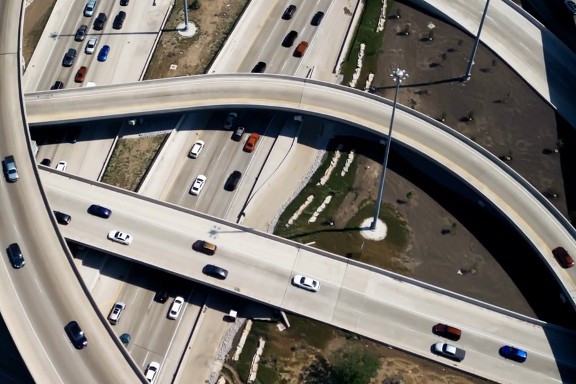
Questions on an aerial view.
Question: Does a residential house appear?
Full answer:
No, there is no residential house in the image.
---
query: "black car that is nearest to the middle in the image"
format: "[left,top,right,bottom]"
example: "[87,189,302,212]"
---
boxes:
[225,170,240,191]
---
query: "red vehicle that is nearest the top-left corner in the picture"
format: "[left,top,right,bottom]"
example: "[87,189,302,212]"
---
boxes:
[74,66,88,83]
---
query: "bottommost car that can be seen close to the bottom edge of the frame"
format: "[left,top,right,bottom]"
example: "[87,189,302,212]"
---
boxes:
[145,358,160,384]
